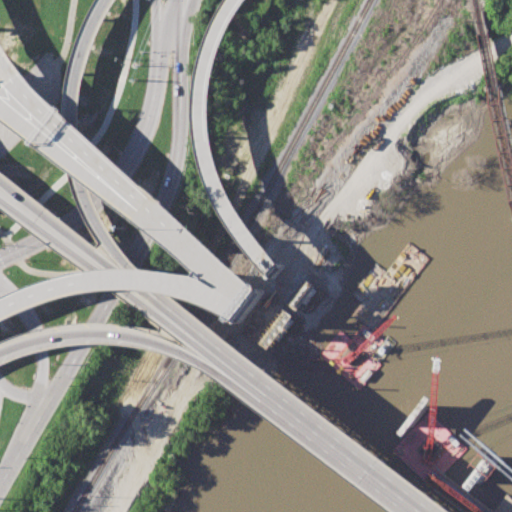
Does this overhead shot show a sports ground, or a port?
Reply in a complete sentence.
This looks like a port.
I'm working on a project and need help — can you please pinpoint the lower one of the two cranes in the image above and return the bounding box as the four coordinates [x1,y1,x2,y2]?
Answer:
[422,354,452,460]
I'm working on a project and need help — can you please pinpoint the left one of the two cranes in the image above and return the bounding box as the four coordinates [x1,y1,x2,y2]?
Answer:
[322,316,398,370]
